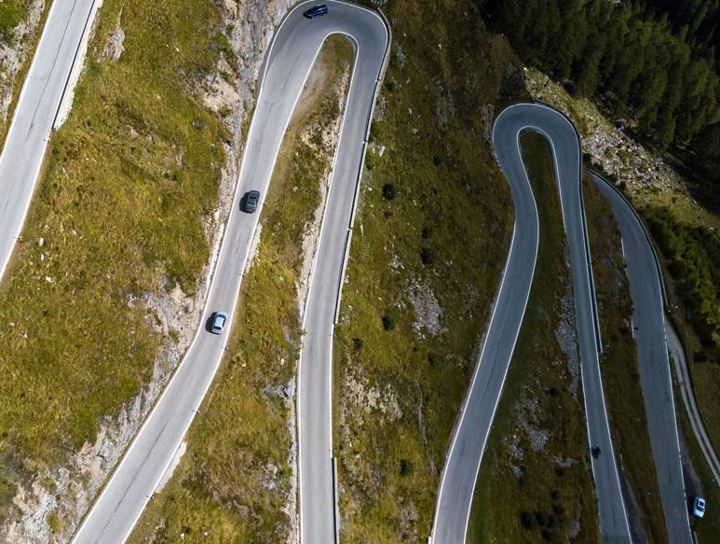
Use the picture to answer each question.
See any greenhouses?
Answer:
No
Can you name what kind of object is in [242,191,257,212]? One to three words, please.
car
